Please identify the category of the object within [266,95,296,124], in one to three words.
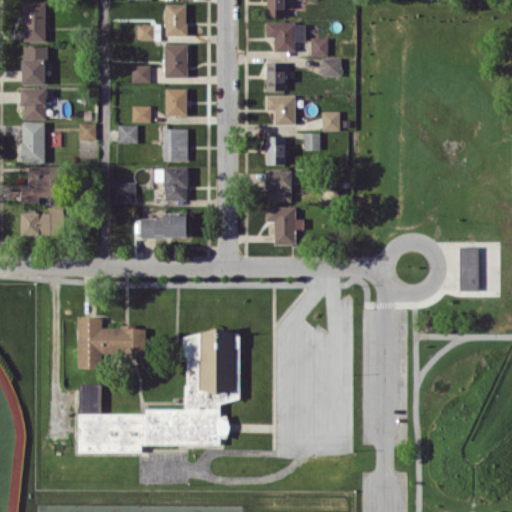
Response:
house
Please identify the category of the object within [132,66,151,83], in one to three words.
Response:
building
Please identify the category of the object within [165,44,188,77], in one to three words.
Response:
house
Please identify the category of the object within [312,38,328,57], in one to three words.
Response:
building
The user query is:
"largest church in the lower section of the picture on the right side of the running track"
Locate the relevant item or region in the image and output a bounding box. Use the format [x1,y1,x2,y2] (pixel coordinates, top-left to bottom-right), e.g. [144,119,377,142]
[77,329,240,455]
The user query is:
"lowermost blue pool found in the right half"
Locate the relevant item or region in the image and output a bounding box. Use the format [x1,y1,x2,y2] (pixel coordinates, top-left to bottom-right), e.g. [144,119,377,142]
[304,103,320,118]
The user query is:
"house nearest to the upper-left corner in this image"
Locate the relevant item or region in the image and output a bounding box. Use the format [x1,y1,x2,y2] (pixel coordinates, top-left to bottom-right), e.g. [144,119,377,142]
[22,0,46,42]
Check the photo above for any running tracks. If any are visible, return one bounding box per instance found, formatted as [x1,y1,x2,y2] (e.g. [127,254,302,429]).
[0,364,26,512]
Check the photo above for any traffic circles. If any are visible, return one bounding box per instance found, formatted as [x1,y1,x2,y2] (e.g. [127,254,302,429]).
[378,234,446,302]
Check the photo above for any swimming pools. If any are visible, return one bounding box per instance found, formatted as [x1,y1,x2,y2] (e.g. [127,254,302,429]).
[304,103,320,118]
[330,21,344,34]
[62,101,72,118]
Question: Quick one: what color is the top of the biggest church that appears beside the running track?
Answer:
white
